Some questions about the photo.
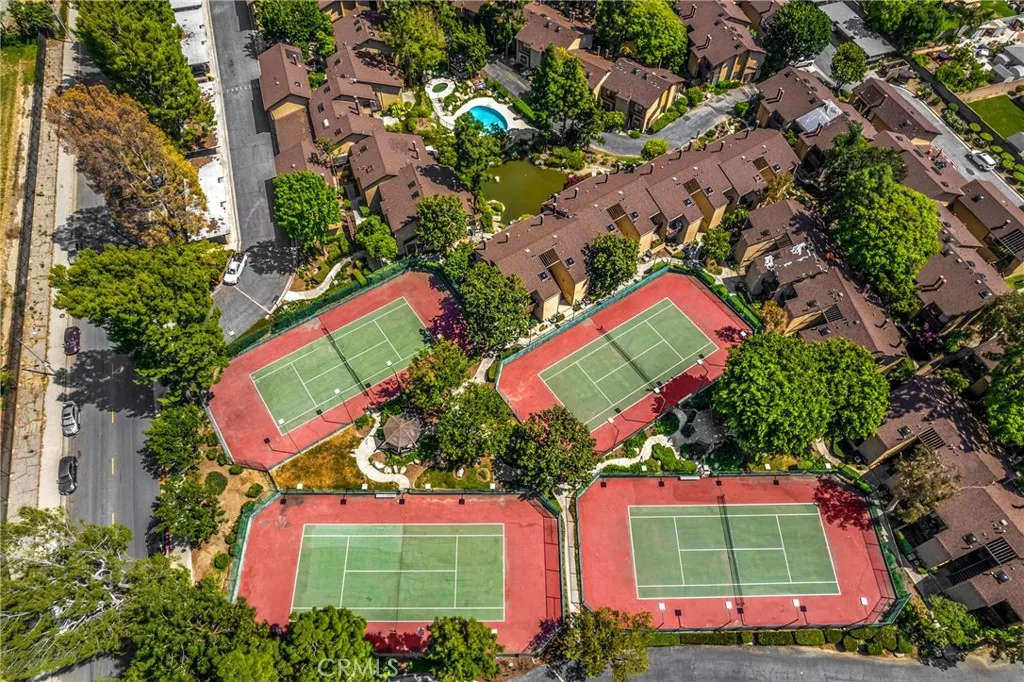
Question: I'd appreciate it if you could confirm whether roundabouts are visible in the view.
No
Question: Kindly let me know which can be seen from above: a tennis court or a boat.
tennis court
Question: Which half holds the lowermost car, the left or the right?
left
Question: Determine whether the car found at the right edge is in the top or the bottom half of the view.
top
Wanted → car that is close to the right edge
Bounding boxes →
[970,149,1000,169]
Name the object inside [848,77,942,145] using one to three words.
house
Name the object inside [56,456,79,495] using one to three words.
car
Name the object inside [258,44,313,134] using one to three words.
house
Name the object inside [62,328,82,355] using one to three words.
car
